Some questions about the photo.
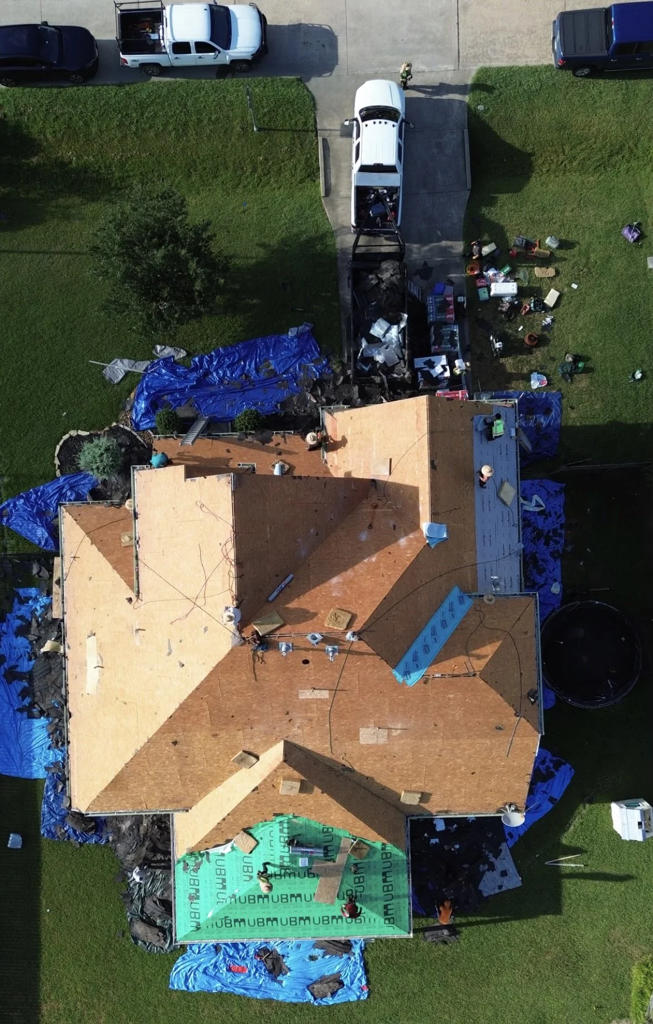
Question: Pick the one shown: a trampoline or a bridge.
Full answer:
This aerial view contains a trampoline.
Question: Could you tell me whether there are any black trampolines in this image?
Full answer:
Yes, a black trampoline appears in the view.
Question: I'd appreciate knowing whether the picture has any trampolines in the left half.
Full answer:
No, no trampoline is visible in the left half.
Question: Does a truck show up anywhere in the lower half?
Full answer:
No, I can find no truck in the lower half.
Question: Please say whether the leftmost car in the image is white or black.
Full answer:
The leftmost car looks black in the image.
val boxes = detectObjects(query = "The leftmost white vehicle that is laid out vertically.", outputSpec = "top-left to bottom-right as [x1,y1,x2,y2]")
[341,78,417,238]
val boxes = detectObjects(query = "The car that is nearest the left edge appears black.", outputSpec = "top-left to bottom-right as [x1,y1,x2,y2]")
[0,16,101,84]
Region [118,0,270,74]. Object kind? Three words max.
truck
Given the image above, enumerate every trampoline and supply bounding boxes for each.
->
[542,604,643,705]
